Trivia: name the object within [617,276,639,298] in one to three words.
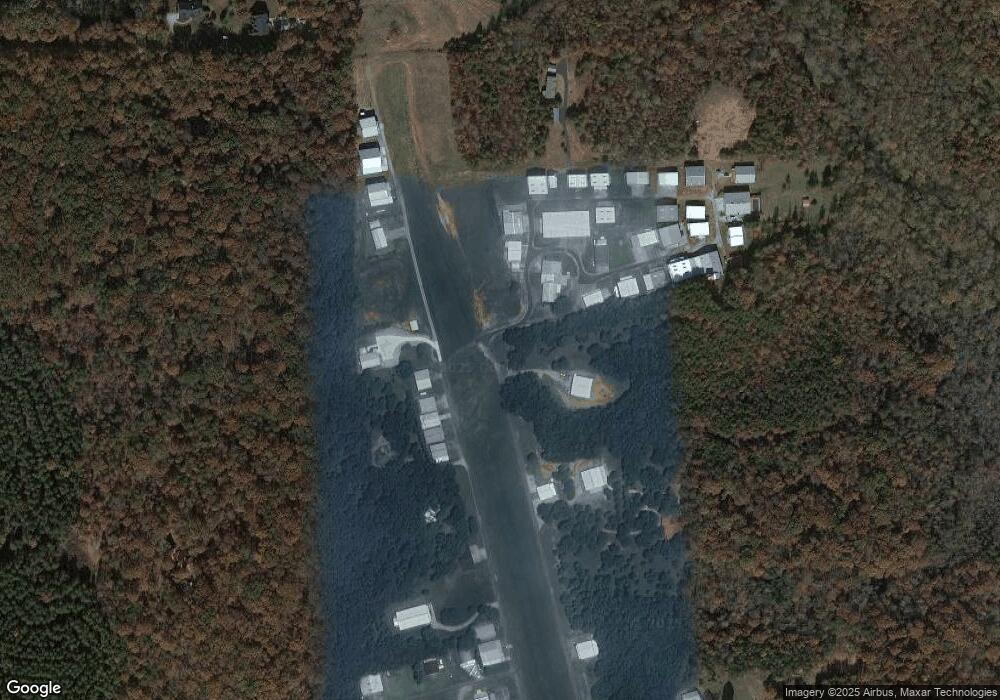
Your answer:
hangar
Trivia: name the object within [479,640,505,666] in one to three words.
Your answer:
hangar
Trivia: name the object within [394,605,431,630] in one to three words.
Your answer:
barn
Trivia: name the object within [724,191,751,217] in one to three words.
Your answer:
house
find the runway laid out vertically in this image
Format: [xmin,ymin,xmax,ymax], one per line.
[378,63,577,700]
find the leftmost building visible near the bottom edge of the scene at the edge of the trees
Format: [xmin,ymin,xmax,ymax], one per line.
[360,675,383,695]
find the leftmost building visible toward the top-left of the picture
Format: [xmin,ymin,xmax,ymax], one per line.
[179,1,206,21]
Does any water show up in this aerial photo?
No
